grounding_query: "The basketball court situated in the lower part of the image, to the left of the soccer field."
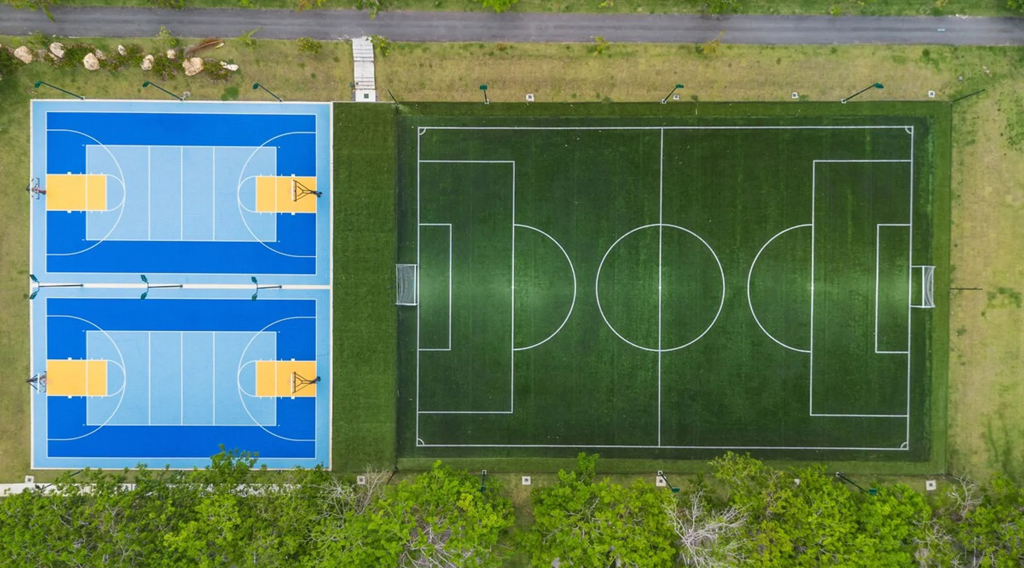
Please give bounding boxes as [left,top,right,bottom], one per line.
[33,287,330,468]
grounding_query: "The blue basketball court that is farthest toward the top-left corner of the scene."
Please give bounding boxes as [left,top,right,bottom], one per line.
[32,102,330,285]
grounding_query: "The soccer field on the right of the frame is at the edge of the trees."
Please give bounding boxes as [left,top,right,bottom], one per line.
[396,103,951,475]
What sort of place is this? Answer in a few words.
sports ground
